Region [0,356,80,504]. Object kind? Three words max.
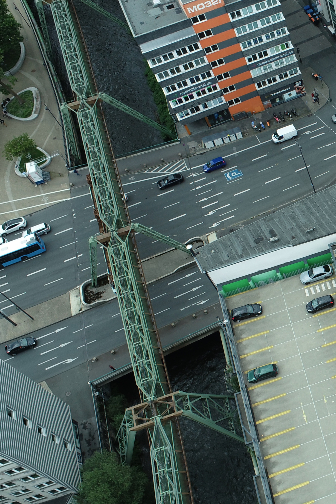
building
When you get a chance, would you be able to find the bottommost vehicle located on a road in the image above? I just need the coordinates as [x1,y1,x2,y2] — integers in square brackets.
[5,336,38,356]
